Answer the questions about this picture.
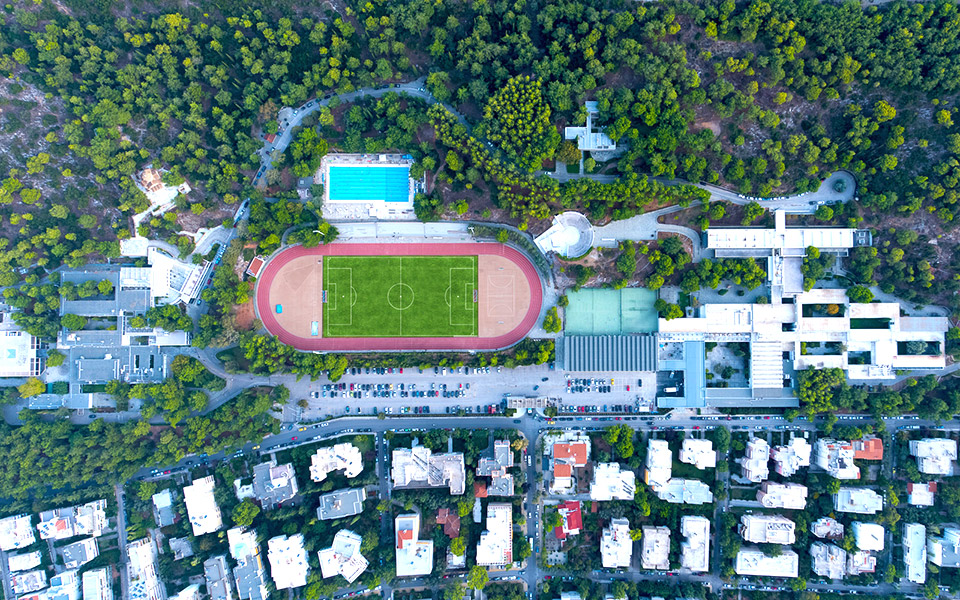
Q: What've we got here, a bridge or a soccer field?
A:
soccer field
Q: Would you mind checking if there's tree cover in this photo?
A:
Yes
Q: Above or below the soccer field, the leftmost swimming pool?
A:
above it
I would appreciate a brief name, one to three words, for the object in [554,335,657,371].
building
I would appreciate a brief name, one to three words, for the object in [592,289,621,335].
tennis court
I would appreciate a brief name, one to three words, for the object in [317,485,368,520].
building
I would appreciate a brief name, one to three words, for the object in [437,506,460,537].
house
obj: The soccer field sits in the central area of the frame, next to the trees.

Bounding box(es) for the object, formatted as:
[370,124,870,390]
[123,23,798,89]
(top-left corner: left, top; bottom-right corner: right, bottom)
[322,256,478,338]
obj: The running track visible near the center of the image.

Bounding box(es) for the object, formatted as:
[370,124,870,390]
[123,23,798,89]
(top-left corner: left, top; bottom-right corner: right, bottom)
[257,244,543,350]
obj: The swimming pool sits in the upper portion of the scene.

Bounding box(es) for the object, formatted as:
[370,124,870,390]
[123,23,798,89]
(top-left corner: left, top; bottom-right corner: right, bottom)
[320,154,417,219]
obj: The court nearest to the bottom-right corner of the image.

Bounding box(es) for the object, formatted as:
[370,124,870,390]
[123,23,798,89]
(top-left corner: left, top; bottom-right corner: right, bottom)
[622,289,657,335]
